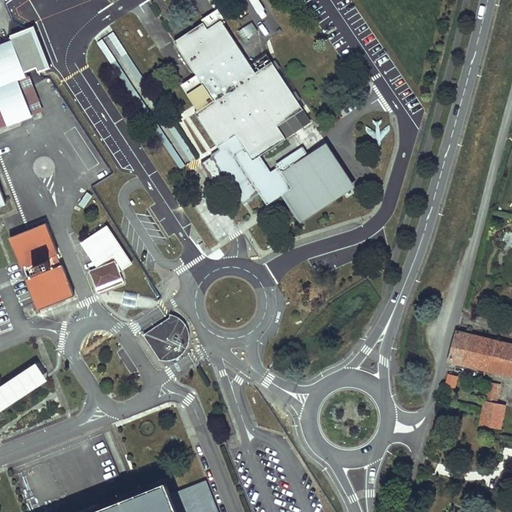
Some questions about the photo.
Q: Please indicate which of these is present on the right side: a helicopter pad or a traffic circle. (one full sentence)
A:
It is a traffic circle that can be seen on the right side.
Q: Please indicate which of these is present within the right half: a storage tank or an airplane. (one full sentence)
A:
There is an airplane within the right half.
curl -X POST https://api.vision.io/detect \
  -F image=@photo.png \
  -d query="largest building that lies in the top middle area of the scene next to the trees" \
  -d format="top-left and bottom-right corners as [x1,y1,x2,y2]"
[175,9,311,204]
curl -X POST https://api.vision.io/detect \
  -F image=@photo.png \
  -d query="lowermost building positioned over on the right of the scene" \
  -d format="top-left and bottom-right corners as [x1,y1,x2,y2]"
[480,402,507,431]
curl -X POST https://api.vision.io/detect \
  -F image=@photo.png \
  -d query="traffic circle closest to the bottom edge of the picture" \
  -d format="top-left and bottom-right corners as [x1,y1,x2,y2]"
[300,370,398,468]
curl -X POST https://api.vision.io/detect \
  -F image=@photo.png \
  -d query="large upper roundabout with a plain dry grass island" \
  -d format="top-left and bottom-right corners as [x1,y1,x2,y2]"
[186,256,278,348]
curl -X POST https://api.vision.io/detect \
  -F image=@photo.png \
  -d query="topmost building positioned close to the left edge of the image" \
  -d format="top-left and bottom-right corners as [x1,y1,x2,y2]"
[9,24,50,76]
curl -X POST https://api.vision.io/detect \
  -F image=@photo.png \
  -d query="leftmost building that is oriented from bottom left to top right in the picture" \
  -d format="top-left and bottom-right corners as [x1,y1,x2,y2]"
[0,363,47,410]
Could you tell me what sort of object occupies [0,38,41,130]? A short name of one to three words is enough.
building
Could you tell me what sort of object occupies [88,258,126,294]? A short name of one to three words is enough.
house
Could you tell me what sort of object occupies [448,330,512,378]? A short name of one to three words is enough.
barn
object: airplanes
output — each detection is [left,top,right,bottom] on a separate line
[366,116,390,145]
